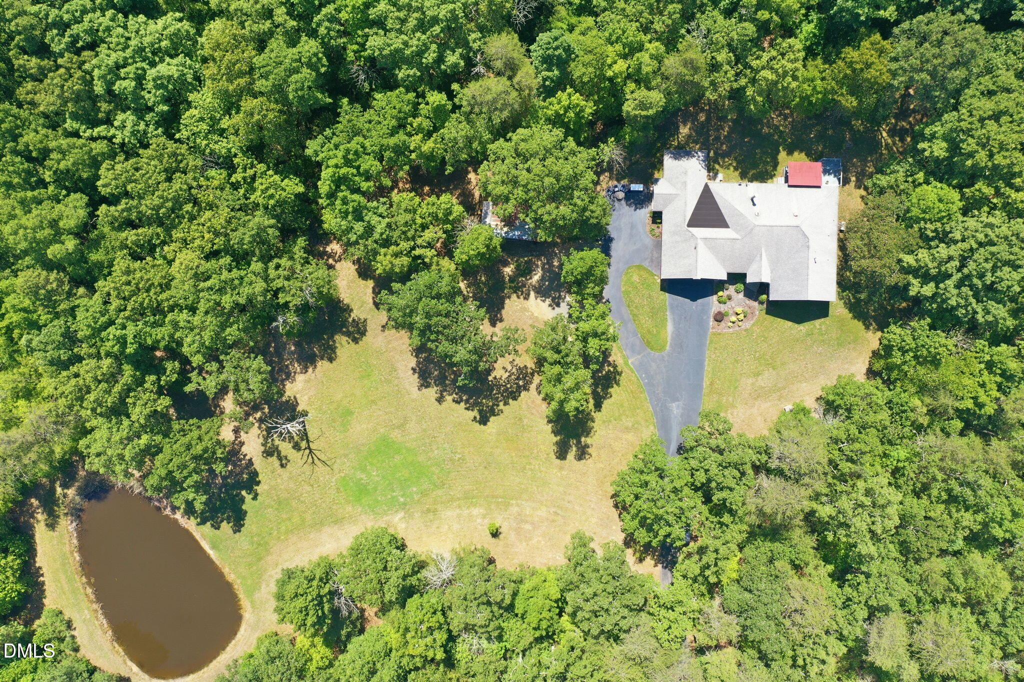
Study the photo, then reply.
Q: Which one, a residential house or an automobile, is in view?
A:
residential house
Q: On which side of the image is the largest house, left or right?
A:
right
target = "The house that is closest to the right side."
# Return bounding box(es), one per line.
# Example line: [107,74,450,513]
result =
[652,149,839,300]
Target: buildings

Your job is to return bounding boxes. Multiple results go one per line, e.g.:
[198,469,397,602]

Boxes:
[652,149,839,300]
[483,200,543,246]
